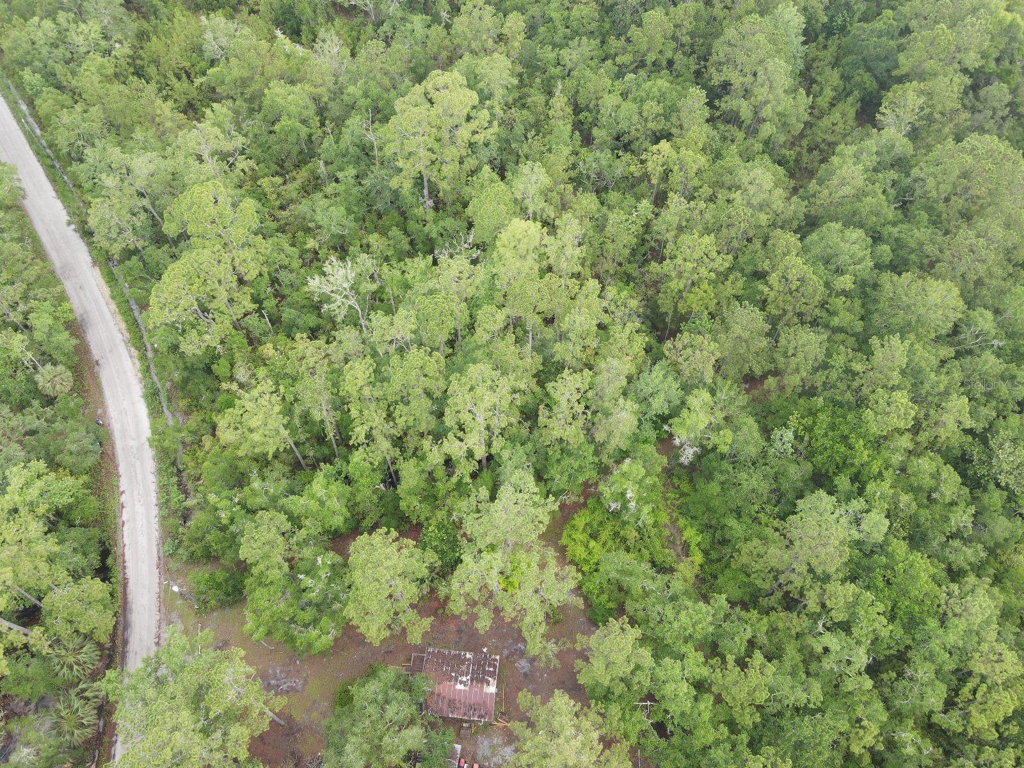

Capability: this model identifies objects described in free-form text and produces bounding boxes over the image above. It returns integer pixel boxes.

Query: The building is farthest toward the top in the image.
[403,650,501,744]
